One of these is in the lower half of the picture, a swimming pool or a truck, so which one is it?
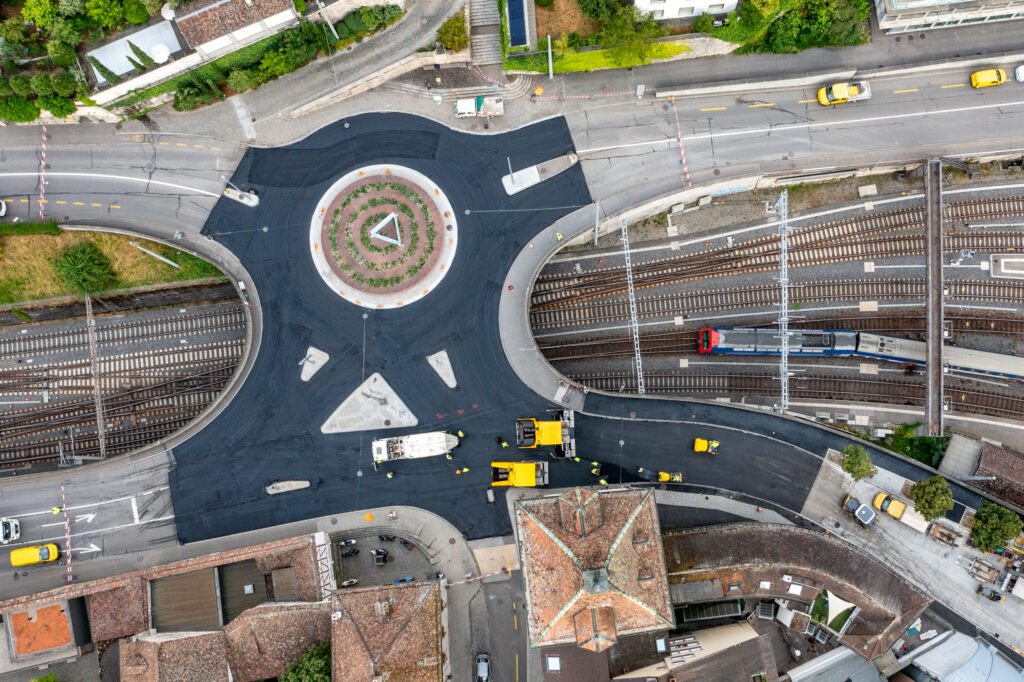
truck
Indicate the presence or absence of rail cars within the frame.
Yes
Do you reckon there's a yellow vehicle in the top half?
Yes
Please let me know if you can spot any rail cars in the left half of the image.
No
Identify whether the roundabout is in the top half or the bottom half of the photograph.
top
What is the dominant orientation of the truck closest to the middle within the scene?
from left to right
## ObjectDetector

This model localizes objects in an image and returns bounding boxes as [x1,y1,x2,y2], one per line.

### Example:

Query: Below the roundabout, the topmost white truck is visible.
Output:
[370,432,461,469]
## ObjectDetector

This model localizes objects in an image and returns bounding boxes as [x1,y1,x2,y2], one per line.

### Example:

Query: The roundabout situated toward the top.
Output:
[266,119,500,353]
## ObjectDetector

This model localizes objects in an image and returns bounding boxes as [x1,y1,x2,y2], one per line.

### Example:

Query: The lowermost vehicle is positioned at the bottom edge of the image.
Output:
[472,648,494,682]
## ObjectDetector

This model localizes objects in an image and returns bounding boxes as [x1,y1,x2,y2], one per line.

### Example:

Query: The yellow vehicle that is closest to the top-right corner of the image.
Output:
[963,68,1004,94]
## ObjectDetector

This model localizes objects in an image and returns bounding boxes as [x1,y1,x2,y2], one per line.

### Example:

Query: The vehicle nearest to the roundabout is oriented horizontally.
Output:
[456,99,507,123]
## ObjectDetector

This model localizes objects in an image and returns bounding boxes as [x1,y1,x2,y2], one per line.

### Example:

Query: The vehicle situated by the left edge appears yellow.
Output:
[10,541,66,566]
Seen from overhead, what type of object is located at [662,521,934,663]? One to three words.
building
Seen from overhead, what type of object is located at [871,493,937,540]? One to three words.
truck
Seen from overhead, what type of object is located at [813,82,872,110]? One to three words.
truck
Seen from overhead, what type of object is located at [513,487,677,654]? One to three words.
house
